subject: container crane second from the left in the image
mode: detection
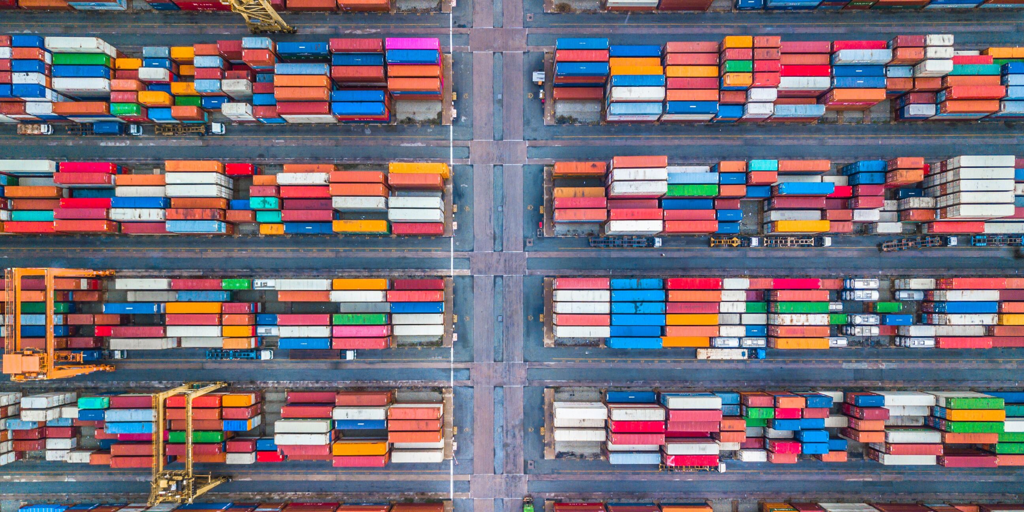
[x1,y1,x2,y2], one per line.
[149,379,236,508]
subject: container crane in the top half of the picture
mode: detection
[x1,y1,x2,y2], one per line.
[229,0,296,35]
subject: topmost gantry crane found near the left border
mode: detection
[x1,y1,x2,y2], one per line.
[1,264,117,379]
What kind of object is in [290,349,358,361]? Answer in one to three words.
vehicle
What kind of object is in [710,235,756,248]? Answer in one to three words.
vehicle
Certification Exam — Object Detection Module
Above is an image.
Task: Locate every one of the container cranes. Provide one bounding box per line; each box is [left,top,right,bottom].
[149,379,236,508]
[229,0,296,35]
[1,264,117,379]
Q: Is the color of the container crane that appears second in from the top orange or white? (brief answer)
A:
orange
